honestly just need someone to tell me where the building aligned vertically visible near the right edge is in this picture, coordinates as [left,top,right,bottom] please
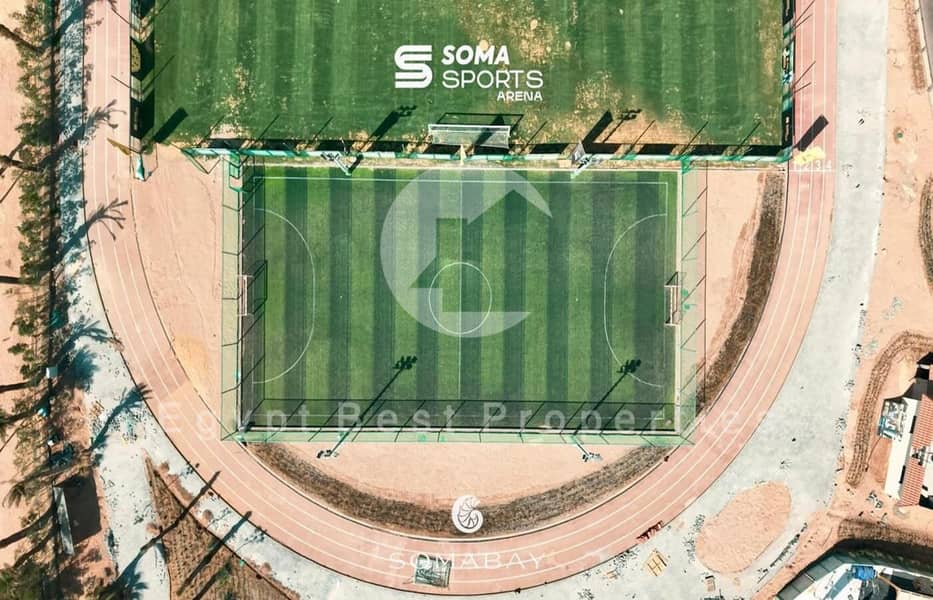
[874,367,933,514]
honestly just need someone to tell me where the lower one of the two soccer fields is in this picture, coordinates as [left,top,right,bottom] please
[239,166,683,431]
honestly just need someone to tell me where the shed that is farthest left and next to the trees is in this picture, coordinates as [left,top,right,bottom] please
[54,481,88,554]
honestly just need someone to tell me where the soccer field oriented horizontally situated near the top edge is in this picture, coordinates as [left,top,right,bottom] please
[147,0,784,158]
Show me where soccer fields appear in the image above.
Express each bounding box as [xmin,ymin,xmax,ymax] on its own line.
[239,166,683,431]
[147,0,784,158]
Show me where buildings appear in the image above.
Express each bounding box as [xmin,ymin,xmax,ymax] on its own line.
[874,367,933,514]
[765,554,933,600]
[54,481,88,554]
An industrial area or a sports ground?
sports ground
